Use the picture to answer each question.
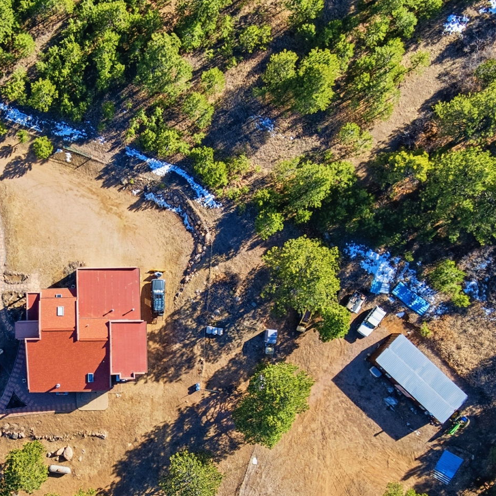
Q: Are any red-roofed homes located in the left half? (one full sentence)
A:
Yes, a red-roofed home can be seen in the left half.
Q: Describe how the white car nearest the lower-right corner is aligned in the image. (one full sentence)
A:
From this overhead view, the white car nearest the lower-right corner appears to run on a diagonal.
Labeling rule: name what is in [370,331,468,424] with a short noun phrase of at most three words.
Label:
barn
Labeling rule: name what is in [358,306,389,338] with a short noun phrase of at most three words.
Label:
car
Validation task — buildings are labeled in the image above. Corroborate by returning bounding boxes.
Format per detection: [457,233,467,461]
[16,266,146,394]
[370,331,468,424]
